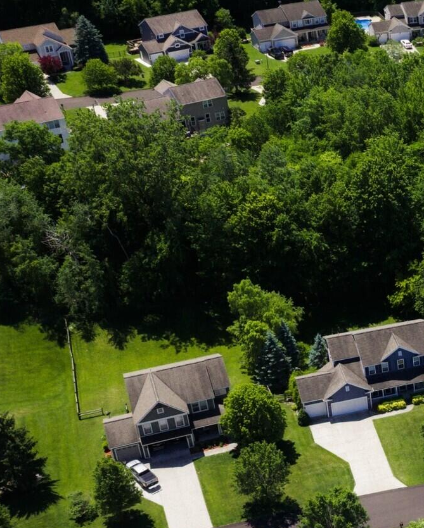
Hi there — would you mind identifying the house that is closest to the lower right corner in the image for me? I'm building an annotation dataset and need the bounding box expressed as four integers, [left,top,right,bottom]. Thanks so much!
[293,323,424,418]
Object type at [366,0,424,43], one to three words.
house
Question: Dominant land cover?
trees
